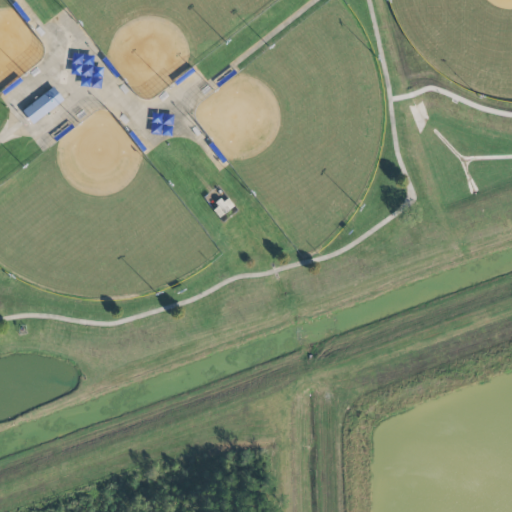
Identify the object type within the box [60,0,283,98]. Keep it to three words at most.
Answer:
baseball field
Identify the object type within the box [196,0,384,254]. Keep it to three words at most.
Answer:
baseball field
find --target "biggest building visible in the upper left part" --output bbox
[24,87,64,124]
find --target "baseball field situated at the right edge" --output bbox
[388,0,512,100]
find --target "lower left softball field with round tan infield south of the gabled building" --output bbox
[0,110,219,300]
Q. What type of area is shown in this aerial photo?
sports ground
